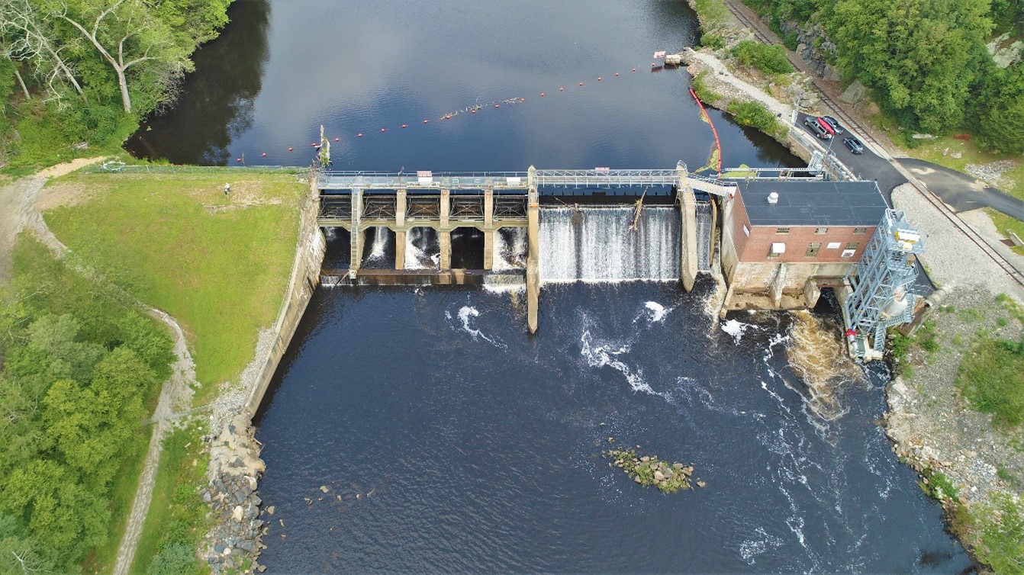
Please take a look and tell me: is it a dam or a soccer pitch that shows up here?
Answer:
dam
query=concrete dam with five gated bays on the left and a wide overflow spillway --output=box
[313,164,722,331]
